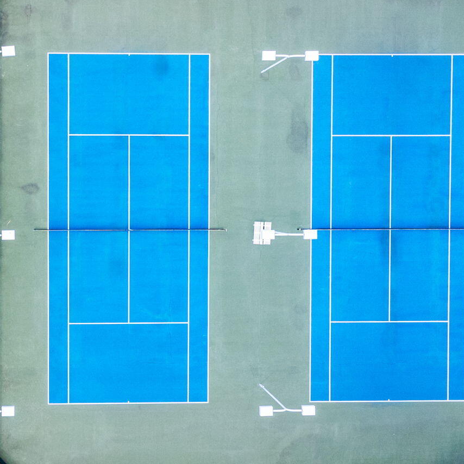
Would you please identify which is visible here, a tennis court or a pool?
tennis court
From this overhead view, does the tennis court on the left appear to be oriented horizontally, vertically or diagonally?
vertically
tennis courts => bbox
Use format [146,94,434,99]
[310,54,464,402]
[48,53,210,403]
